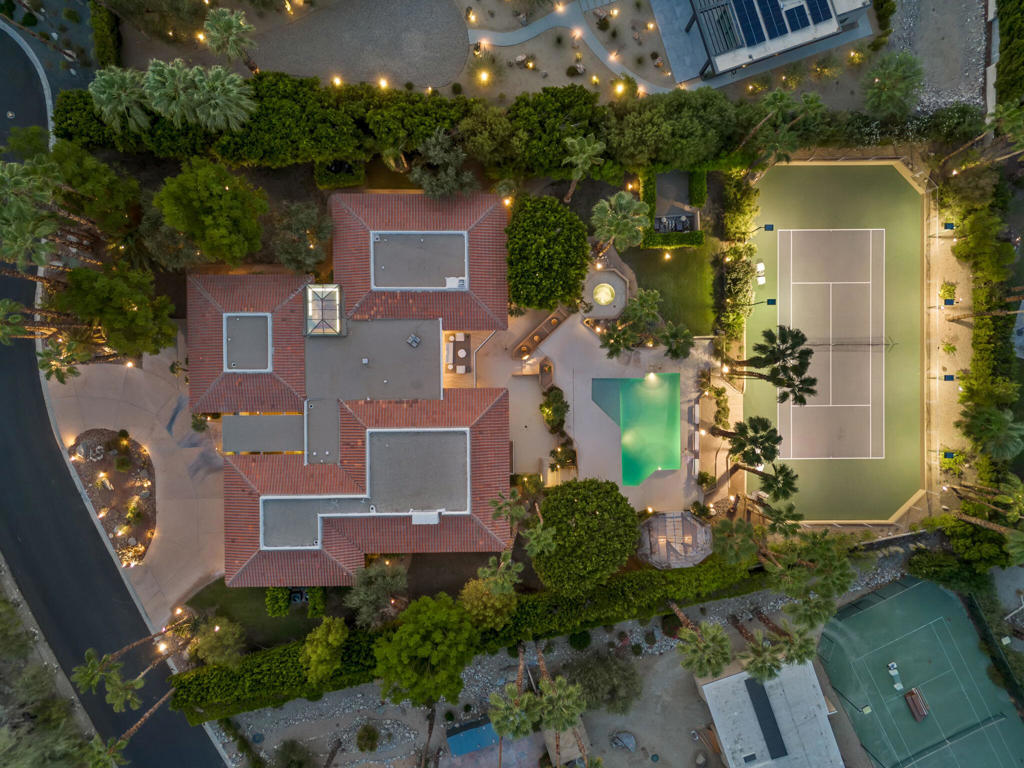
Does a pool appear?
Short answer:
Yes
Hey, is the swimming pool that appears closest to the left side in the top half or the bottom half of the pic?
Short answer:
bottom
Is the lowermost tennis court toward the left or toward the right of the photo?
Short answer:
right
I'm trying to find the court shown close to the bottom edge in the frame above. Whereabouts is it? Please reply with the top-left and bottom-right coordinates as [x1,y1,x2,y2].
[818,583,1024,768]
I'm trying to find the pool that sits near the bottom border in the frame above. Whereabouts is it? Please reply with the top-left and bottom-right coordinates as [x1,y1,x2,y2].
[447,713,500,757]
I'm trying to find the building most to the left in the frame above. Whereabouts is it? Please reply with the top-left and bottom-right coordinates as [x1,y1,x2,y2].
[185,191,513,588]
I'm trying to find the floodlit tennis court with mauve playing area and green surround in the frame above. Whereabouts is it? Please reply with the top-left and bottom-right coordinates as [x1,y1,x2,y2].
[739,158,927,527]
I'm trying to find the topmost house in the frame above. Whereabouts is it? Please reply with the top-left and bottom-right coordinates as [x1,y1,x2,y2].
[687,0,872,79]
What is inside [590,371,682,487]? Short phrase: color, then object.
green swimming pool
